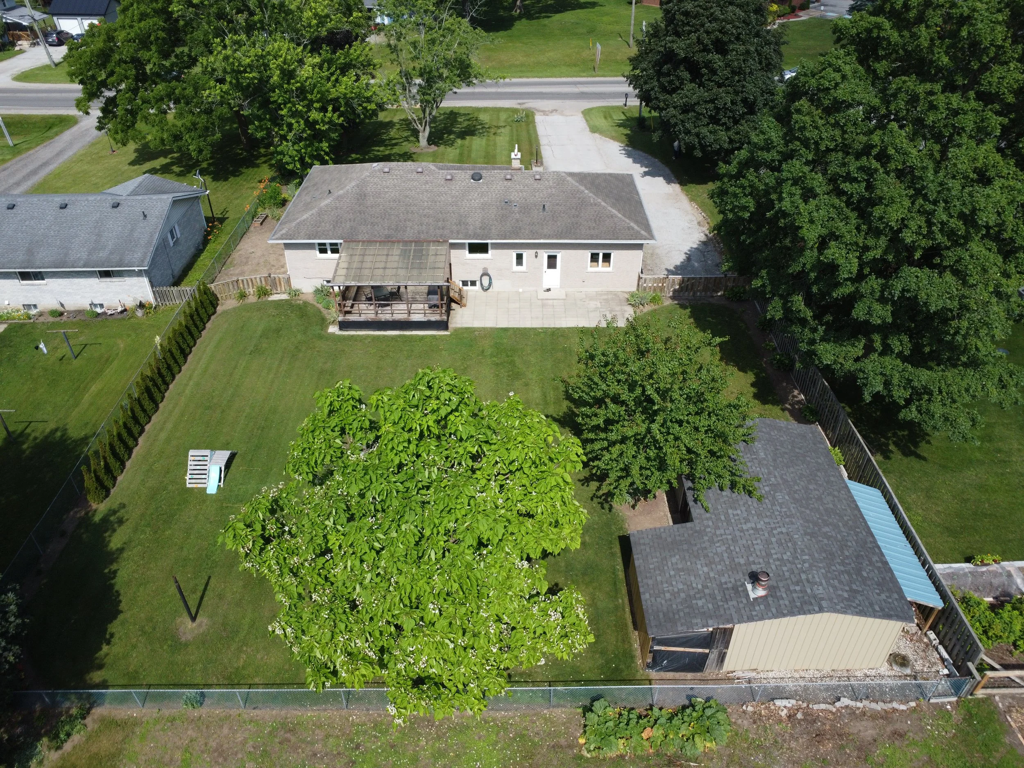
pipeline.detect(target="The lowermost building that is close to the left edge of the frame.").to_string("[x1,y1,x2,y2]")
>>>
[0,171,208,305]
